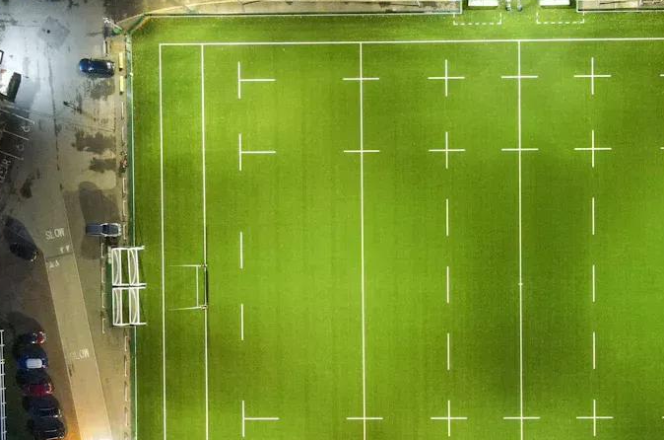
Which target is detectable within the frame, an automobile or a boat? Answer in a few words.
automobile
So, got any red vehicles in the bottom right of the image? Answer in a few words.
No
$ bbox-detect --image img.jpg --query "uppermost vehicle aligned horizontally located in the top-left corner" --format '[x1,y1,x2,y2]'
[80,60,114,77]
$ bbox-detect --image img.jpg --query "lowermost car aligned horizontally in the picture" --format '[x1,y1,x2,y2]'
[30,424,66,440]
